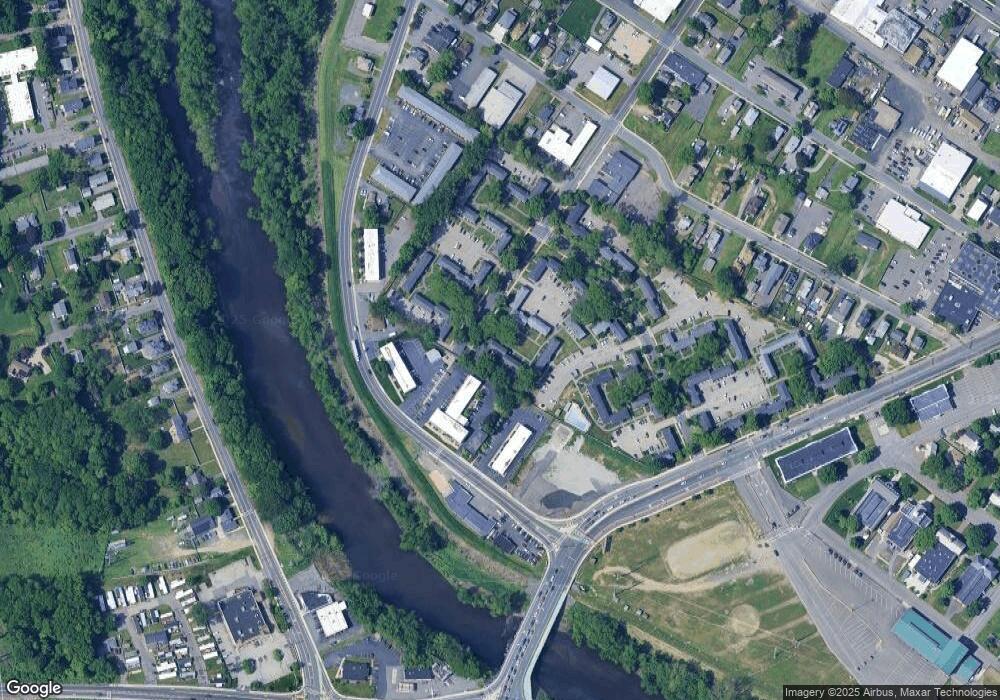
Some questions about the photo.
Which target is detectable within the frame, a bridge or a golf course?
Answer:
bridge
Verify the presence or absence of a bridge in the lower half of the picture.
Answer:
Yes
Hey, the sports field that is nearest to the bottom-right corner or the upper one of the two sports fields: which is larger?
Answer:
the upper one of the two sports fields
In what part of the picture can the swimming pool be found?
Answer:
center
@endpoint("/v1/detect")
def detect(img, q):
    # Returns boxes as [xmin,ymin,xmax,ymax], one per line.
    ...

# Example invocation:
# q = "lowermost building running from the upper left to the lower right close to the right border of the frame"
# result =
[894,607,971,680]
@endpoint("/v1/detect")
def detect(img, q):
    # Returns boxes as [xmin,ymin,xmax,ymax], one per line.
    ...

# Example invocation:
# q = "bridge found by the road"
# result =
[497,580,568,691]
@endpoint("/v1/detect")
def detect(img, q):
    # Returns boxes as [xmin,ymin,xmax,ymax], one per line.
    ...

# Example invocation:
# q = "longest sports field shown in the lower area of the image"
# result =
[664,517,756,582]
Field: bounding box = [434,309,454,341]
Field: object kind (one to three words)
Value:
building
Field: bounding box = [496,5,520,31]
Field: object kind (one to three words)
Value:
house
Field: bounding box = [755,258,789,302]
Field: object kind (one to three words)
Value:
shed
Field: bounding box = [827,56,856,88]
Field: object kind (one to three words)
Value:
barn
